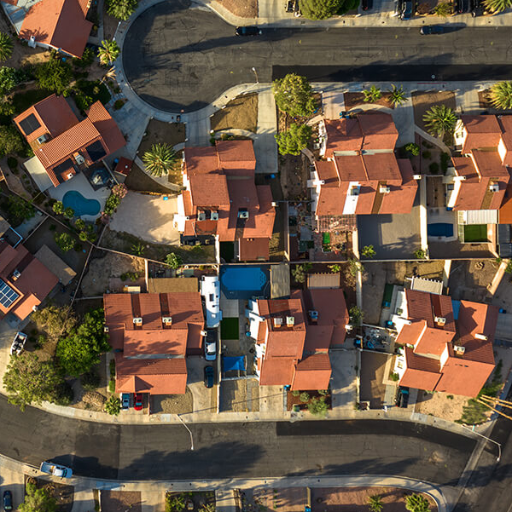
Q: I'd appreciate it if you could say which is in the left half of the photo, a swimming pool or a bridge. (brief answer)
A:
swimming pool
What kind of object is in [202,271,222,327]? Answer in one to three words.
vehicle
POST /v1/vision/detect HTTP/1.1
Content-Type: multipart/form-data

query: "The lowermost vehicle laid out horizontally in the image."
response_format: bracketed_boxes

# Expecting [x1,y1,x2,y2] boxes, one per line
[39,460,72,478]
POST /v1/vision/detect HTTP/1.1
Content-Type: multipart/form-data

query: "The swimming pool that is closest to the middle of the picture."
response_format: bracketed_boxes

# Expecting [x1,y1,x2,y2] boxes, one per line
[223,268,268,290]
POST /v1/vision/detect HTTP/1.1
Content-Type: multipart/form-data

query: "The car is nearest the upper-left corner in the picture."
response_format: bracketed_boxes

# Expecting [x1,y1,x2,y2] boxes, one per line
[234,24,261,38]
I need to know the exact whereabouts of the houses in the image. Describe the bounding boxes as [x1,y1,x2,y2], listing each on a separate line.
[103,276,207,400]
[305,114,422,232]
[386,276,499,398]
[439,115,512,224]
[178,139,277,260]
[0,217,76,322]
[14,93,126,191]
[1,0,97,58]
[248,273,353,391]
